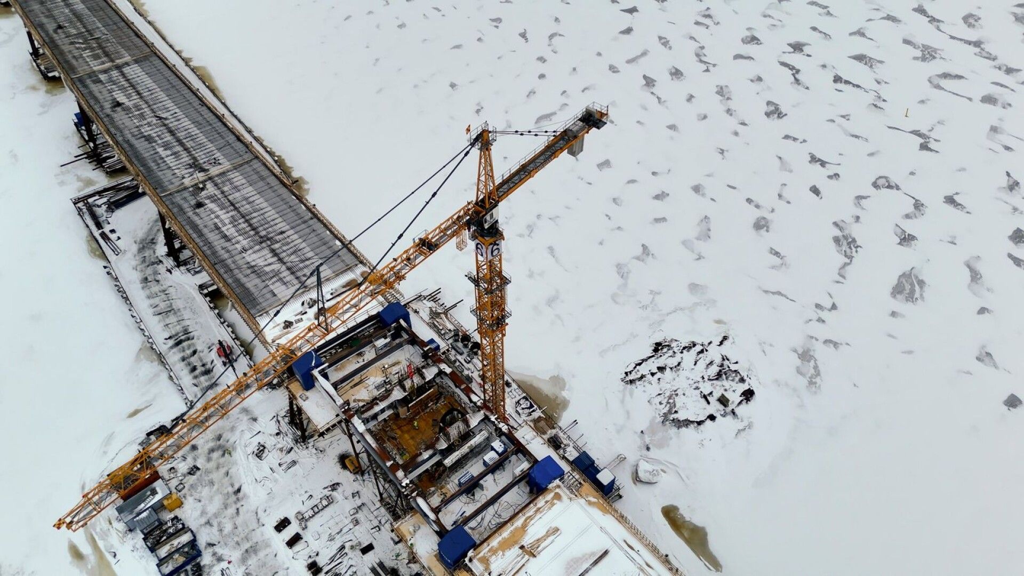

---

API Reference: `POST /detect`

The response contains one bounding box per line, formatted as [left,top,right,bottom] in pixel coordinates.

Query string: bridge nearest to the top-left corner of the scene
[0,0,411,408]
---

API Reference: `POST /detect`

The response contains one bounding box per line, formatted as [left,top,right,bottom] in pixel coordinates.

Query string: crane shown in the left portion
[39,106,614,538]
